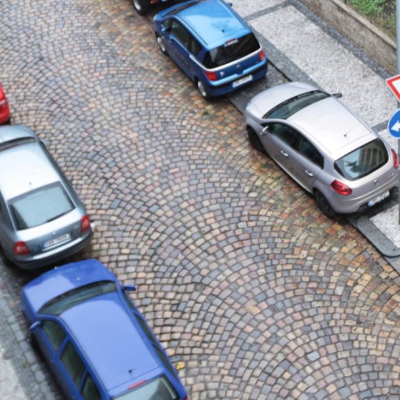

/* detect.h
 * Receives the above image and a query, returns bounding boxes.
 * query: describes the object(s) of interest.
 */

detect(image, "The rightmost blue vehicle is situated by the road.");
[157,0,277,104]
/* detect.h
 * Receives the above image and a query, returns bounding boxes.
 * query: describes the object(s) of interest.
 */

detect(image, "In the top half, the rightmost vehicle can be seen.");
[255,90,399,221]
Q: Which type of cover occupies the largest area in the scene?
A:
paved ground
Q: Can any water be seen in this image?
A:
No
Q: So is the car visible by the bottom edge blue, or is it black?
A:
blue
